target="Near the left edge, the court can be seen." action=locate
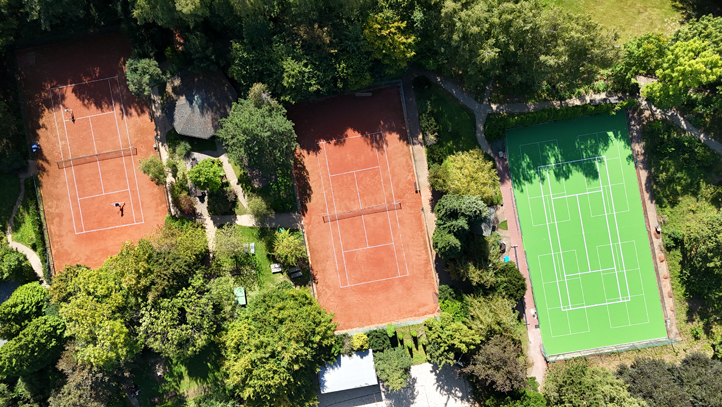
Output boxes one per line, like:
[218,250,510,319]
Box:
[16,30,176,275]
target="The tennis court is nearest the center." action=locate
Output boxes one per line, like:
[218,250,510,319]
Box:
[280,84,441,333]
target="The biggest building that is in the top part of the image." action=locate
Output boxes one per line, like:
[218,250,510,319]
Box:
[164,68,238,138]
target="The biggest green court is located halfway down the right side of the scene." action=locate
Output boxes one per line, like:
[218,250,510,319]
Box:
[508,109,665,357]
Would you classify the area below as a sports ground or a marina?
sports ground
